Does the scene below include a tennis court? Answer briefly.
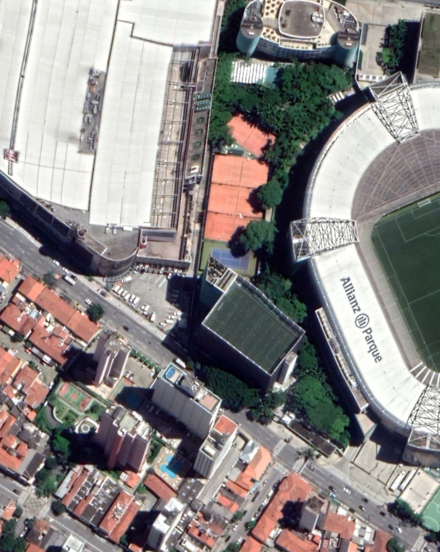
Yes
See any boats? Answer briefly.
No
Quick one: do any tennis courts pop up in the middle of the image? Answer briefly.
Yes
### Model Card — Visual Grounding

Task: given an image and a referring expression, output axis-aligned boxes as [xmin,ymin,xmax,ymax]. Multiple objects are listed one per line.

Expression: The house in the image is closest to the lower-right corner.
[368,529,393,552]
